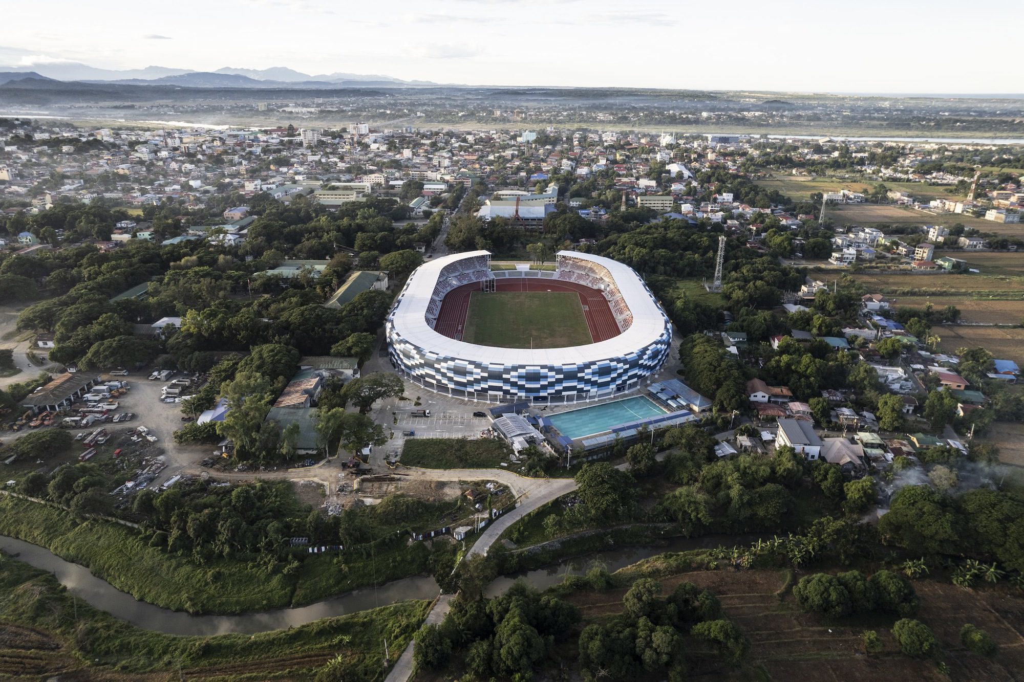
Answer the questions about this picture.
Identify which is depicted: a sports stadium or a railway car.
sports stadium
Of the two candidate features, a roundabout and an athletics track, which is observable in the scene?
athletics track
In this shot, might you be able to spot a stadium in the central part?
Yes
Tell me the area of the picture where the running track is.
center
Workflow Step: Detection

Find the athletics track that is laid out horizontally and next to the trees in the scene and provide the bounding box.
[430,278,624,344]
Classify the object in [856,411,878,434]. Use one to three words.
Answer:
house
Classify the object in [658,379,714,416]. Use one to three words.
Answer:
building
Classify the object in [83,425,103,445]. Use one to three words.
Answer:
bus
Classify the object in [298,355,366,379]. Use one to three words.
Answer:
building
